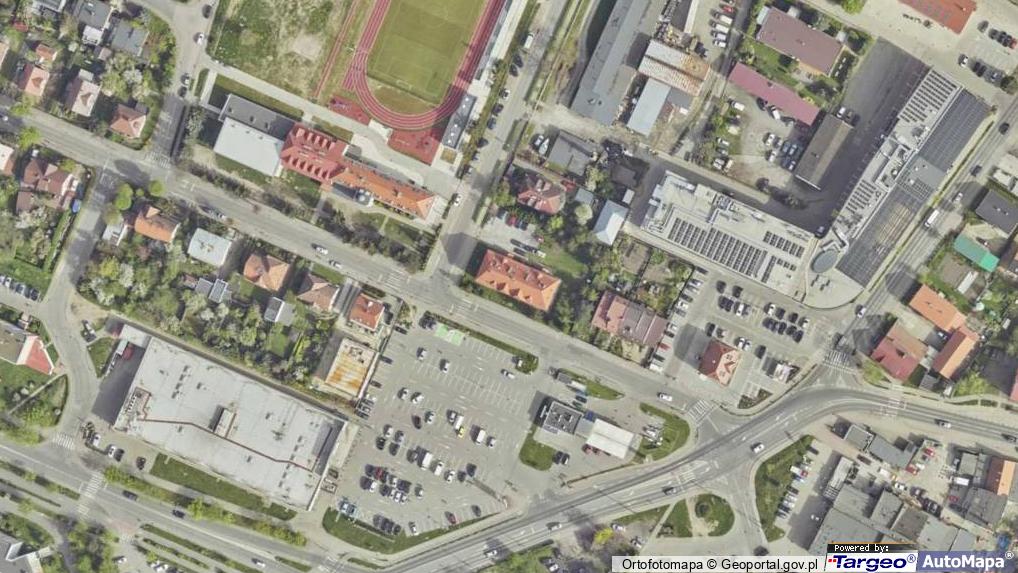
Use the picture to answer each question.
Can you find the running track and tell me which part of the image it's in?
top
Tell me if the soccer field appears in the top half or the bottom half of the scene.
top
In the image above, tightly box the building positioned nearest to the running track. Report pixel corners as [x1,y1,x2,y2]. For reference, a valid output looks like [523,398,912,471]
[214,97,439,220]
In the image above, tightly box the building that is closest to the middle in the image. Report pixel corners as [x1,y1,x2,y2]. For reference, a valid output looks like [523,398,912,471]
[475,250,562,311]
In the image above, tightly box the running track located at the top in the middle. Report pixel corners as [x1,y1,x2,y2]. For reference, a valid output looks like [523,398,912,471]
[338,0,503,130]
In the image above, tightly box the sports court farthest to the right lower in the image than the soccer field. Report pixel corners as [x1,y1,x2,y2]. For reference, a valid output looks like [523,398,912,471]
[390,113,450,165]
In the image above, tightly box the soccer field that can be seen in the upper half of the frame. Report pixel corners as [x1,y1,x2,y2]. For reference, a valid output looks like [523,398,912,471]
[363,0,484,101]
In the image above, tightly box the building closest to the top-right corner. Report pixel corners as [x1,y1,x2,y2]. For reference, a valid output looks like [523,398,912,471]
[901,0,976,34]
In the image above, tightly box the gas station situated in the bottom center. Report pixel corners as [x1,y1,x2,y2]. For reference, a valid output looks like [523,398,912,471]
[541,402,635,459]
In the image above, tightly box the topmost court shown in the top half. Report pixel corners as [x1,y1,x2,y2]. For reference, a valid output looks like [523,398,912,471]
[327,95,371,124]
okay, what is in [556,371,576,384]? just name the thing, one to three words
vehicle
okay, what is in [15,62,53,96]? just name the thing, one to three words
house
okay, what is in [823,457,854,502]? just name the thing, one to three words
shed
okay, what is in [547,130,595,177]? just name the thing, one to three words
building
